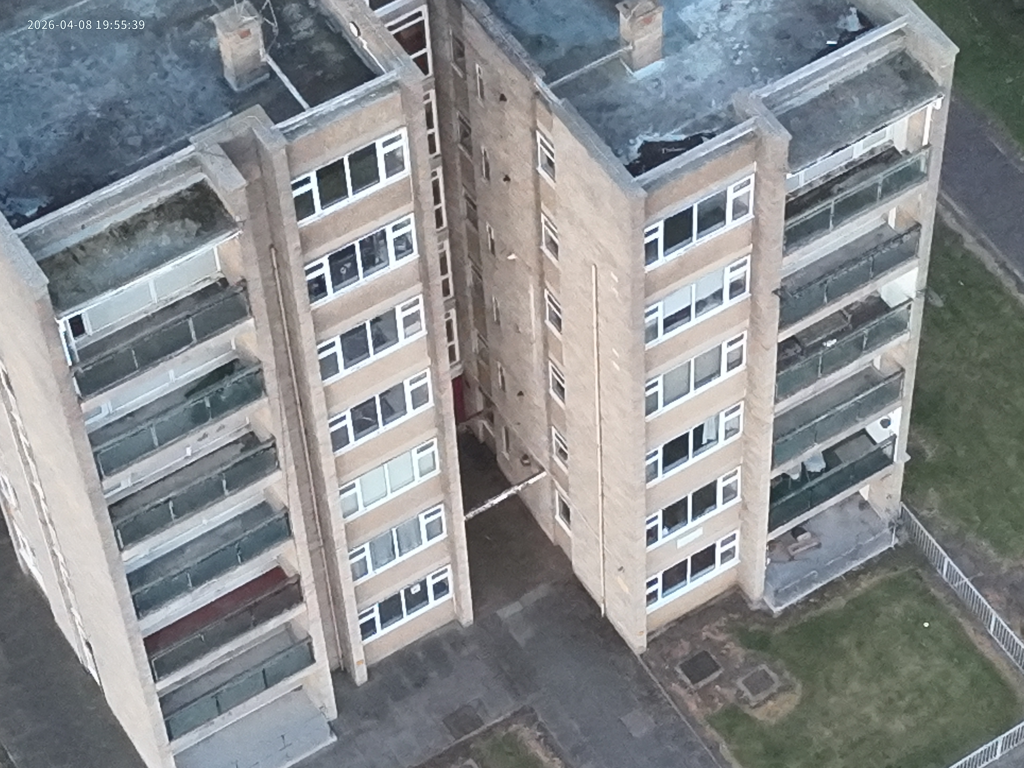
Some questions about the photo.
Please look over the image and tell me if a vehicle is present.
No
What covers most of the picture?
buildings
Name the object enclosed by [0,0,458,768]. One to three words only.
building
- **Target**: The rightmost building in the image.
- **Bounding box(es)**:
[427,0,959,653]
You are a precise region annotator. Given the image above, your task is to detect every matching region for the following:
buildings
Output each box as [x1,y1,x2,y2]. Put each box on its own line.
[0,0,458,768]
[427,0,959,653]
